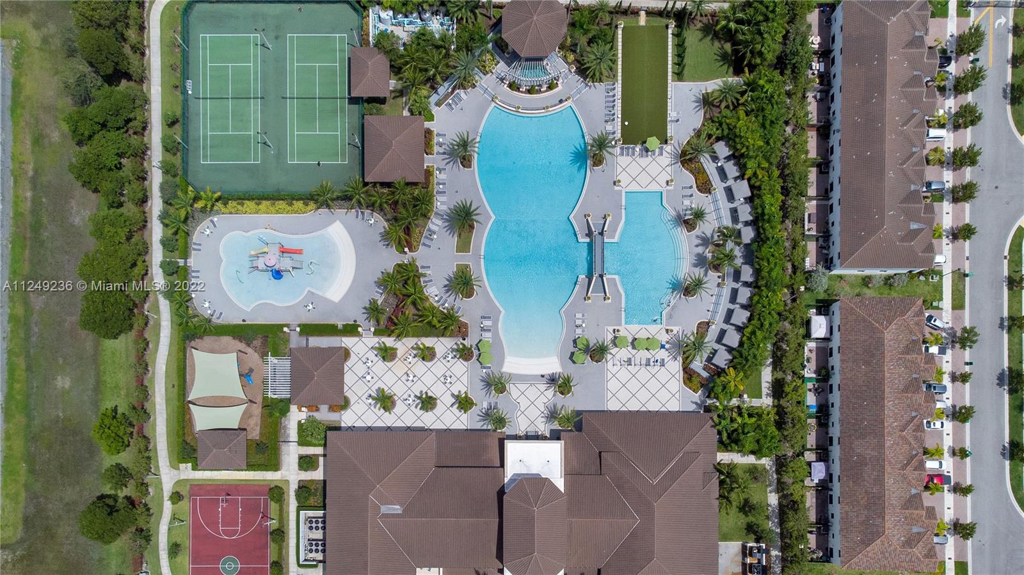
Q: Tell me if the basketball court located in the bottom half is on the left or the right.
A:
left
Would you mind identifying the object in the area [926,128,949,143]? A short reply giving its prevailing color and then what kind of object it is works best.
white car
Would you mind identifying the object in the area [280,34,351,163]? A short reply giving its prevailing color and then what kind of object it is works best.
green tennis court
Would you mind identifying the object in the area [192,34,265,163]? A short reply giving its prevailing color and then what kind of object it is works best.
green tennis court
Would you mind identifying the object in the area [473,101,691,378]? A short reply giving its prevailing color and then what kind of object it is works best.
blue swimming pool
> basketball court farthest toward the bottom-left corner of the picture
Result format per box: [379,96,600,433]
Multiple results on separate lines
[190,484,269,575]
